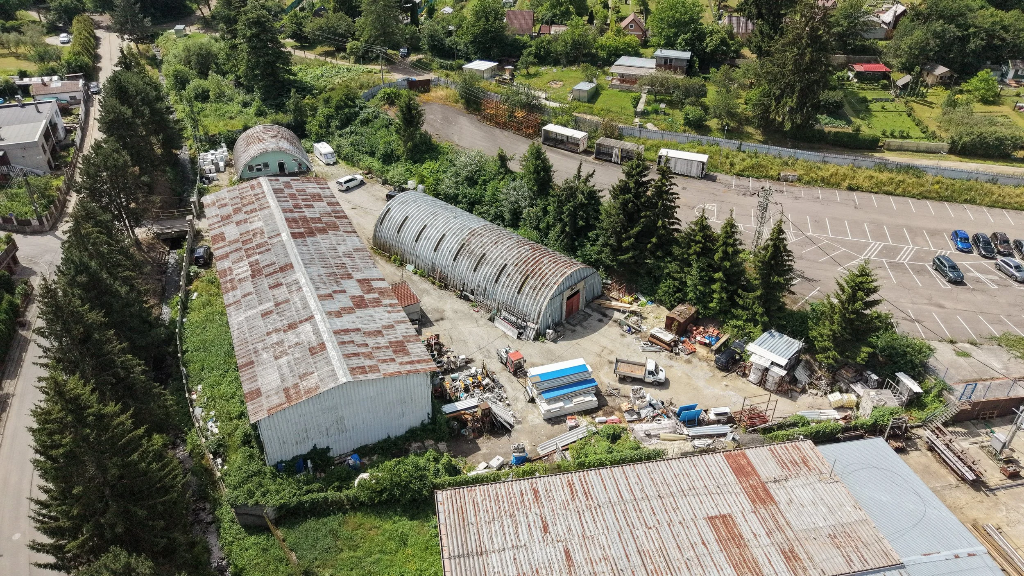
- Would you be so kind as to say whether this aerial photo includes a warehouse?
Yes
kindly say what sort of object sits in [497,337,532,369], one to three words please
vehicle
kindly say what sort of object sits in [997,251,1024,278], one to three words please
car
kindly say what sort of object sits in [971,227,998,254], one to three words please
car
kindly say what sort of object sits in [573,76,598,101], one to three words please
shed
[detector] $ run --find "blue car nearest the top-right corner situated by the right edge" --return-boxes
[949,226,974,248]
